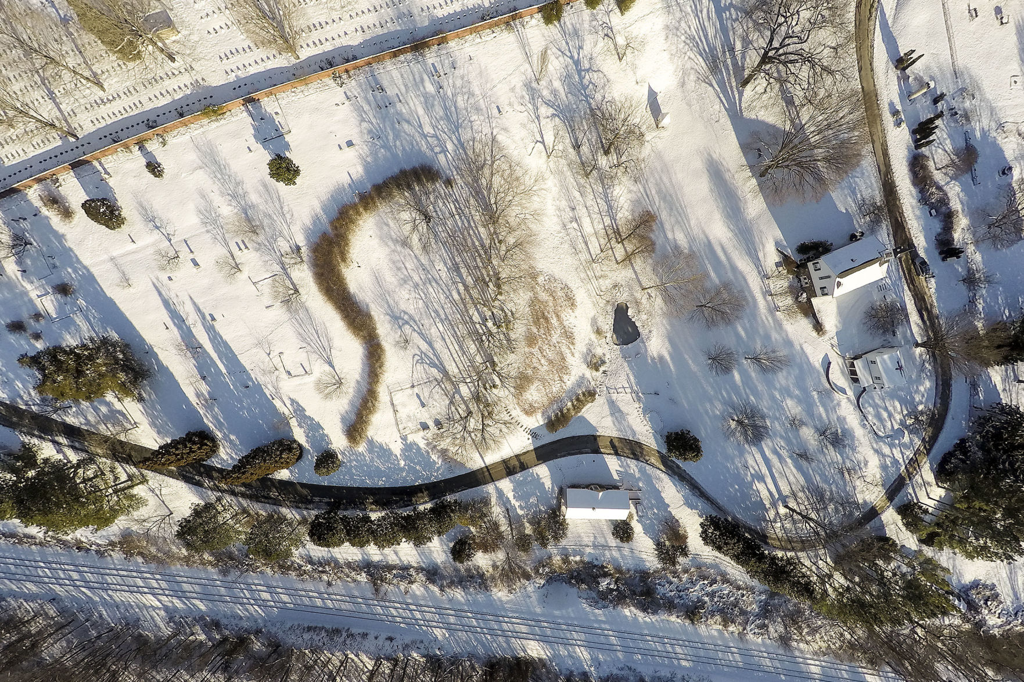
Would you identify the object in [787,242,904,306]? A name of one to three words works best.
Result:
building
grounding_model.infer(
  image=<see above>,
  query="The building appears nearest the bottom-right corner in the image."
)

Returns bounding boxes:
[845,348,909,391]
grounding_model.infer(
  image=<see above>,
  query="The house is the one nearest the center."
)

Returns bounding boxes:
[560,482,637,521]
